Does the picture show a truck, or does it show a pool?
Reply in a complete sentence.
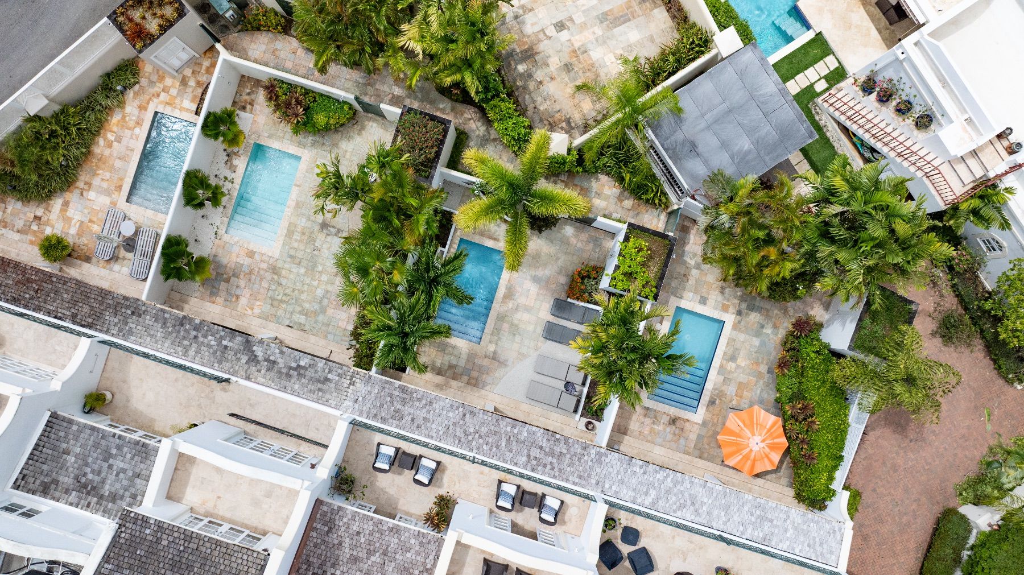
I can see a pool in this picture.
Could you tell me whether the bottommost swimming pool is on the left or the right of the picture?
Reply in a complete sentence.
The bottommost swimming pool appears in the right half of the scene.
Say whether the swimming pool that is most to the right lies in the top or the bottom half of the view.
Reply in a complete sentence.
The swimming pool that is most to the right is in the top half of the image.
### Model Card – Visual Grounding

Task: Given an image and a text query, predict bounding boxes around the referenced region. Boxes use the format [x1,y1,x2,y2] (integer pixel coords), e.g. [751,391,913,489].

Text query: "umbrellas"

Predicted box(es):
[93,237,136,252]
[715,403,788,475]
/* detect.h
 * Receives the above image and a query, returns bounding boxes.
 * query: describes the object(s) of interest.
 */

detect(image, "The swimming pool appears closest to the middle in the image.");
[423,226,517,357]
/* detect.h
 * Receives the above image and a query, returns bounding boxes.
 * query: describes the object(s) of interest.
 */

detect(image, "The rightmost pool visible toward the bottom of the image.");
[635,293,738,427]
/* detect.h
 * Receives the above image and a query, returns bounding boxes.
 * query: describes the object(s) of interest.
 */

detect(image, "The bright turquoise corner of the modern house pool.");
[725,0,825,66]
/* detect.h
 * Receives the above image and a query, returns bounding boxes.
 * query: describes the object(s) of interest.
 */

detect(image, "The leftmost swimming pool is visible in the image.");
[113,99,201,226]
